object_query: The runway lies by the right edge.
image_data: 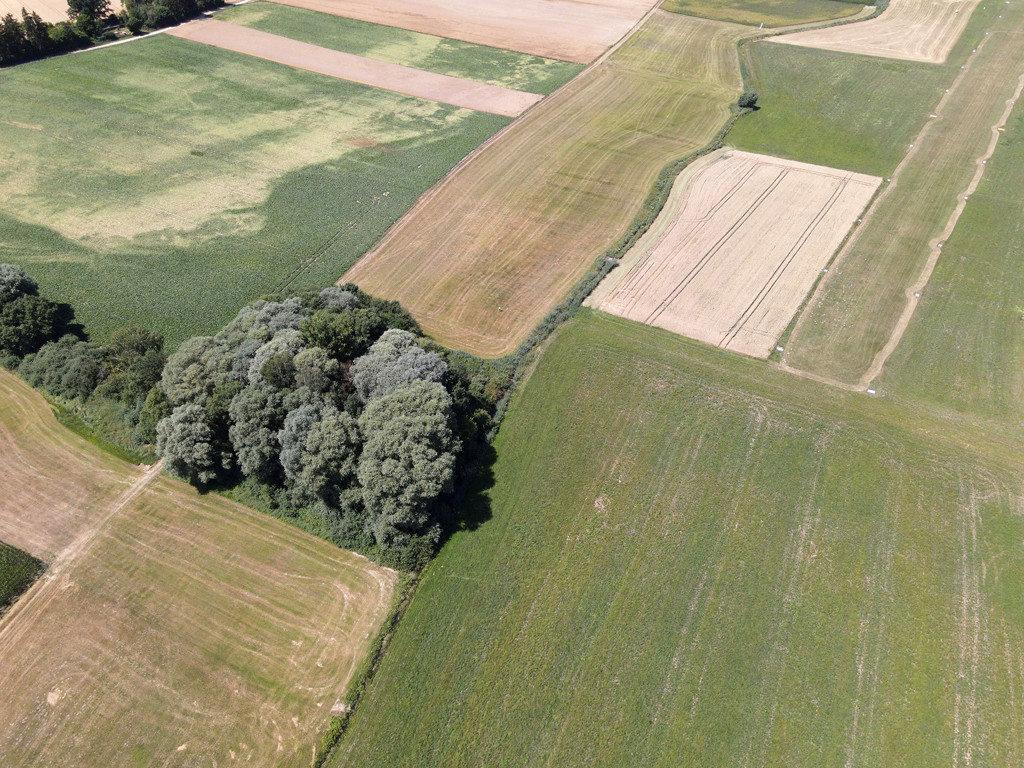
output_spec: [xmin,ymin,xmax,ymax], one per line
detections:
[783,0,1024,384]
